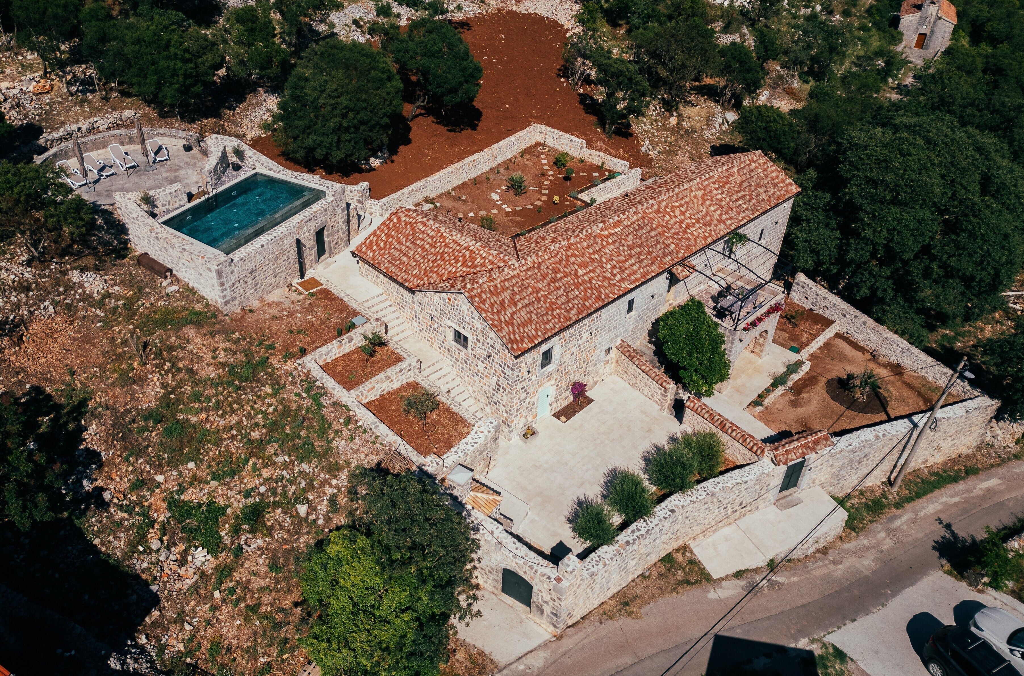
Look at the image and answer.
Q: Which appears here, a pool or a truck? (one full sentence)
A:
The image shows a pool.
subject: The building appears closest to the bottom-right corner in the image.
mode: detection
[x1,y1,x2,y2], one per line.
[767,436,829,511]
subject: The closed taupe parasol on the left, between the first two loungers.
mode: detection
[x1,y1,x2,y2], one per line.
[76,144,95,191]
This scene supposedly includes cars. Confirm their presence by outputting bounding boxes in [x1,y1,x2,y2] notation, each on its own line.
[933,624,1023,676]
[971,613,1024,676]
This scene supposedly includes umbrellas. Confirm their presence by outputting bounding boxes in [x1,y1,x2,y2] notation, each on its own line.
[139,125,156,169]
[76,144,95,191]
